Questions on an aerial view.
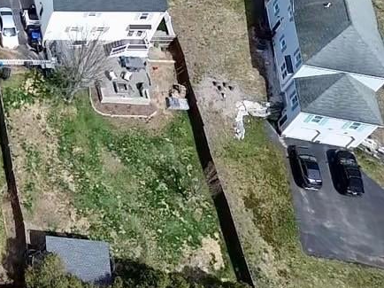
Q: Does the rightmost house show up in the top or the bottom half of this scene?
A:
top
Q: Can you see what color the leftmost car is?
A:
white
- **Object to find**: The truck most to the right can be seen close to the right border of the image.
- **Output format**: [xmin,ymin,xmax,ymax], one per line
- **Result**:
[326,143,369,203]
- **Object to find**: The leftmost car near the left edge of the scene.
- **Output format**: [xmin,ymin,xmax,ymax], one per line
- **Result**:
[0,8,21,50]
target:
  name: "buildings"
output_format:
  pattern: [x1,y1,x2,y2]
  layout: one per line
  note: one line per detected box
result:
[35,0,175,42]
[262,0,384,140]
[46,238,120,288]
